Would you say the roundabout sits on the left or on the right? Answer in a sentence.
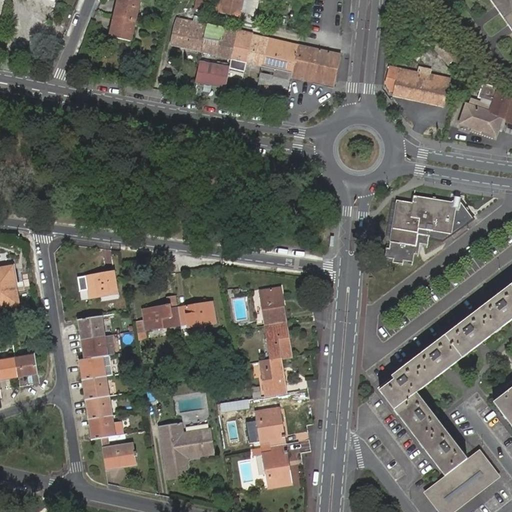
The roundabout appears in the right half of the scene.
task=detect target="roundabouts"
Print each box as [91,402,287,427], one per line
[316,106,404,194]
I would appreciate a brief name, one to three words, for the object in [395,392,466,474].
building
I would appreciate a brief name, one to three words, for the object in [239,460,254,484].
swimming pool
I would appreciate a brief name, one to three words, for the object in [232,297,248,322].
swimming pool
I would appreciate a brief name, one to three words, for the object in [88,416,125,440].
house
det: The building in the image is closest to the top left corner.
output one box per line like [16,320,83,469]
[109,0,140,40]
